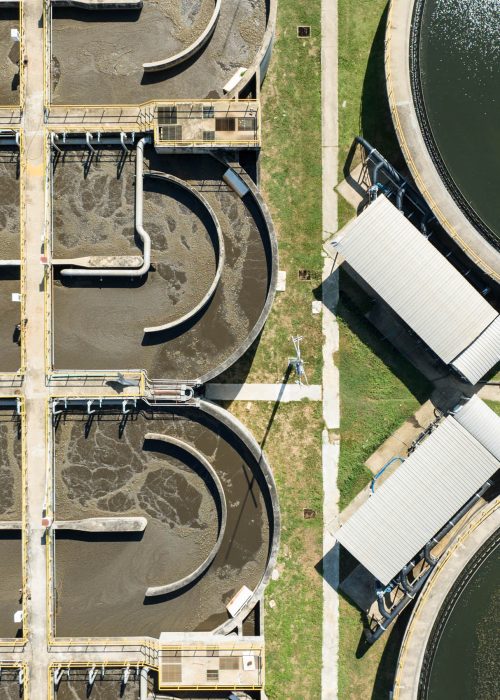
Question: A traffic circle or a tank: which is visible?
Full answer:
The image shows a tank.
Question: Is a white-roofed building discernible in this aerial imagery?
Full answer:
Yes, a white-roofed building appears in the view.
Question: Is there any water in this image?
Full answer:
Yes, the picture does contain water.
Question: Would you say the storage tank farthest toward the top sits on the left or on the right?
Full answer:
The storage tank farthest toward the top appears in the right half of the scene.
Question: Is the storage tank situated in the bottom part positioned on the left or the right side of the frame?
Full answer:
It is on the right.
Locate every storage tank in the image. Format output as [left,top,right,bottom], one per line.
[384,0,500,285]
[392,496,500,700]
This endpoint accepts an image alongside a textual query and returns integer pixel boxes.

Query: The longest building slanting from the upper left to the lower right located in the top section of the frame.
[334,194,499,364]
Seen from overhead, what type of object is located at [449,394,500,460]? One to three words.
building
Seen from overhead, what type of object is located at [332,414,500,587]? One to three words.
building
